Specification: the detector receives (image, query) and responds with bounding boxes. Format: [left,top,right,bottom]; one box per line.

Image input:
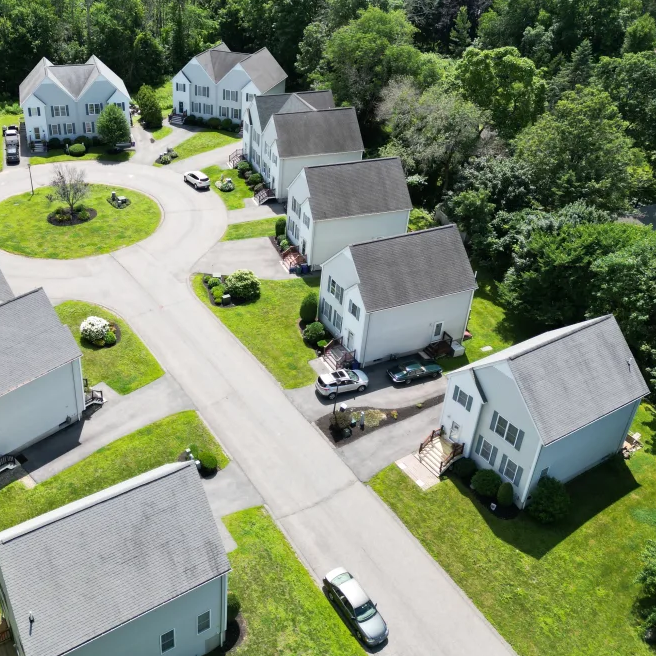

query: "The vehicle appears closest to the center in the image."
[313,364,371,397]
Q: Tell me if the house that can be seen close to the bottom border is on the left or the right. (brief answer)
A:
left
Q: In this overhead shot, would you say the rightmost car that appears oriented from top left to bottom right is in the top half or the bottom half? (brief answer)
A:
bottom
